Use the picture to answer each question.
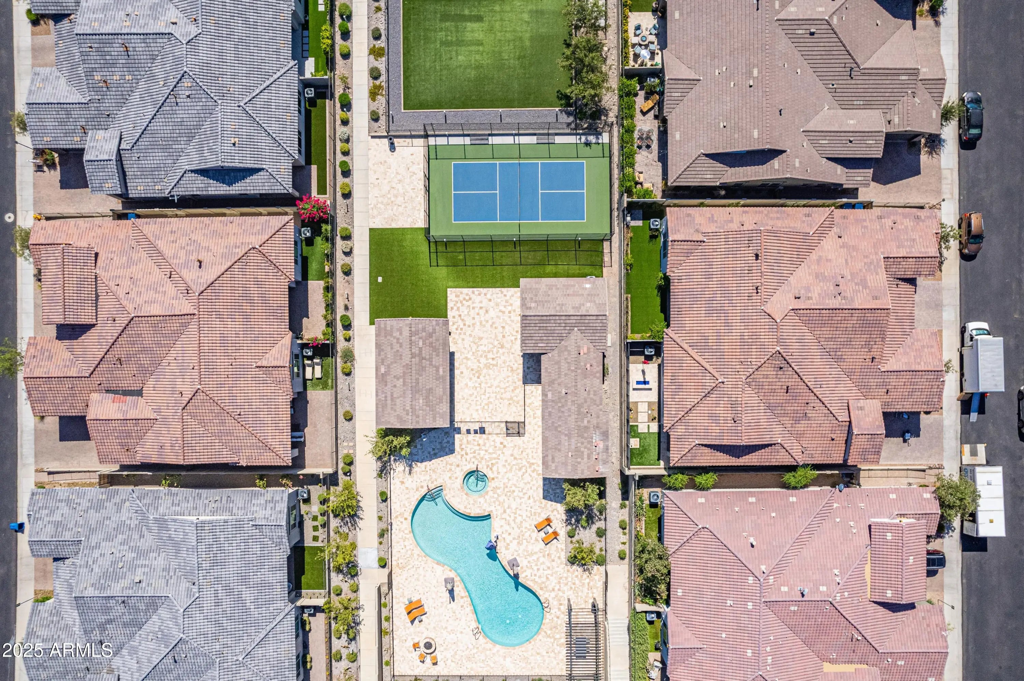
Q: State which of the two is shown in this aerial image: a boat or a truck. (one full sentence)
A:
It is a truck that can be seen here.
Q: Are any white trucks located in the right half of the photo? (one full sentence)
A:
Yes, a white truck shows up in the right half of the photo.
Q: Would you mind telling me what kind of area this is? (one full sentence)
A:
The area seen from above is a residential area.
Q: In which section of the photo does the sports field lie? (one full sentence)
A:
You can find the sports field in the top area of the picture.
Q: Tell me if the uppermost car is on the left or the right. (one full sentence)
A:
It is on the right.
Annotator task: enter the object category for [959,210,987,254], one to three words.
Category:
car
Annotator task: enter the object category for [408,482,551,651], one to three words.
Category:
swimming pool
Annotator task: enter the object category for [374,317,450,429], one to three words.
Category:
building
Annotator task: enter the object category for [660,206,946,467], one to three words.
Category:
house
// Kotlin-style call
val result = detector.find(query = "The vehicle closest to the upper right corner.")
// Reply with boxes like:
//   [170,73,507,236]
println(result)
[960,91,988,141]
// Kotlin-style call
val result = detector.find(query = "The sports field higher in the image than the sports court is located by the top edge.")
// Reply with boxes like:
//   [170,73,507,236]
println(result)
[401,0,577,112]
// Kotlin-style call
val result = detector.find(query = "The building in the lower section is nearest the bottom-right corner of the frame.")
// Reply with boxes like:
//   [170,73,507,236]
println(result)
[660,485,950,681]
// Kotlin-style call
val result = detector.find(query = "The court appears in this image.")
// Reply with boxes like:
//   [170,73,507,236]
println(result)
[428,135,611,241]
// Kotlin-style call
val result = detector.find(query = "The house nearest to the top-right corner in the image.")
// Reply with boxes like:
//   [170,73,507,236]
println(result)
[660,0,948,189]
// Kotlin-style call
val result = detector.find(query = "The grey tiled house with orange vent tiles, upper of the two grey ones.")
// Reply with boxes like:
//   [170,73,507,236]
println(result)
[24,0,304,197]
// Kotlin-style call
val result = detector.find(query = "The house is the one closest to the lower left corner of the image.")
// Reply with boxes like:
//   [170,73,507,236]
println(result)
[24,485,304,681]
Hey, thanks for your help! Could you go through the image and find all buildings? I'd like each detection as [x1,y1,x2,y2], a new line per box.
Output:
[22,214,301,466]
[660,485,950,681]
[660,206,946,467]
[519,277,609,478]
[374,317,450,429]
[24,485,304,681]
[660,0,948,189]
[24,0,304,197]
